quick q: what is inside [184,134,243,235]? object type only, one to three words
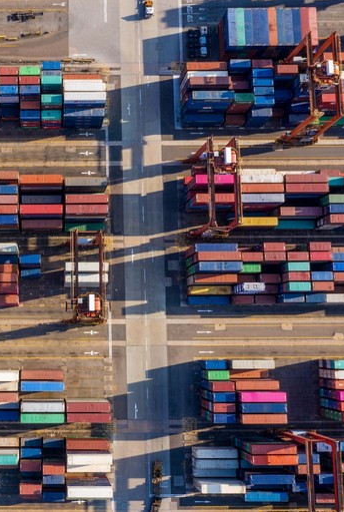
container crane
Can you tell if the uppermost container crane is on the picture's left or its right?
right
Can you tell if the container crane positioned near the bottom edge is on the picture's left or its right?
right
